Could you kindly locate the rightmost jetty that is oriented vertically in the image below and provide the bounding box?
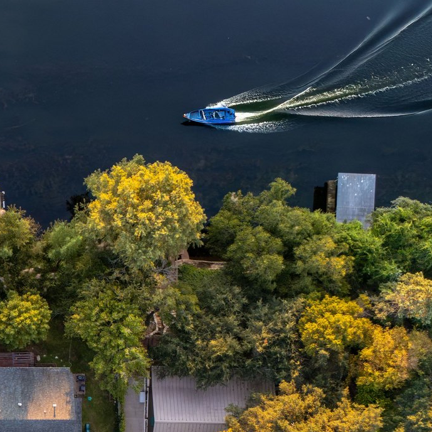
[324,179,338,227]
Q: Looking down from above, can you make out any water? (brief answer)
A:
Yes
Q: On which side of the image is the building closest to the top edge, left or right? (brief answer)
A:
right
